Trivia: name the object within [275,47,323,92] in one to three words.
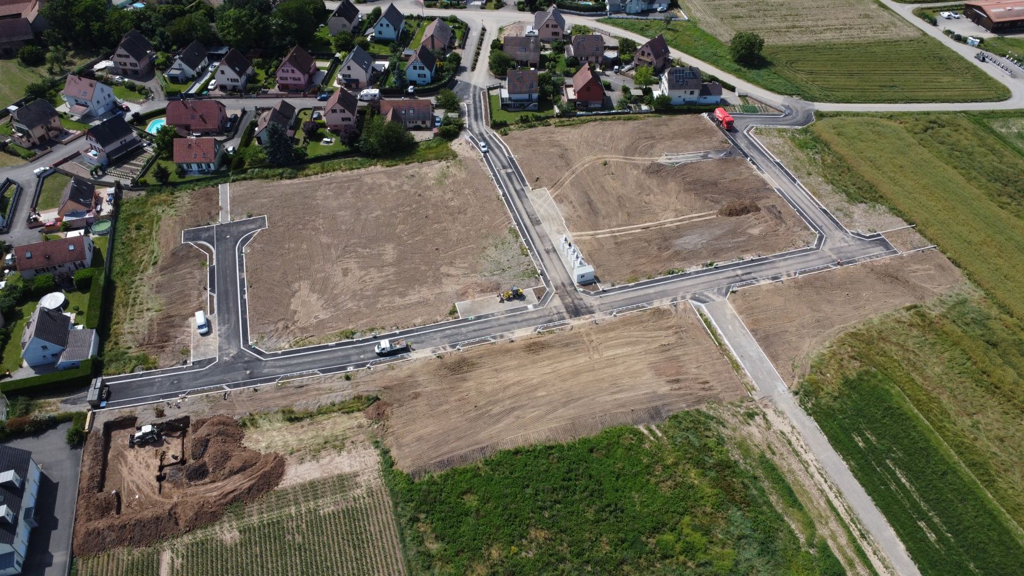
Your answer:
house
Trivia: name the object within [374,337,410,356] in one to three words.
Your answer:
vehicle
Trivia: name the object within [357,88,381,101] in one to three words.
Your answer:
vehicle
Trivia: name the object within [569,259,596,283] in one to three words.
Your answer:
building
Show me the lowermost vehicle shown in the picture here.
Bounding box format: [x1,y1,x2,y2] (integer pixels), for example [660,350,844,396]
[126,425,186,451]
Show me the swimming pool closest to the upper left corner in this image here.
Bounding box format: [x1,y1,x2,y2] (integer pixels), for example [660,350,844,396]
[146,117,167,131]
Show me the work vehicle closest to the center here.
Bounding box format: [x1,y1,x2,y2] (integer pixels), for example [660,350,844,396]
[498,286,529,303]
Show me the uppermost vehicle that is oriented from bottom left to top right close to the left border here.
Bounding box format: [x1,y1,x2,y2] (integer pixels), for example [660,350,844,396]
[29,161,51,177]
